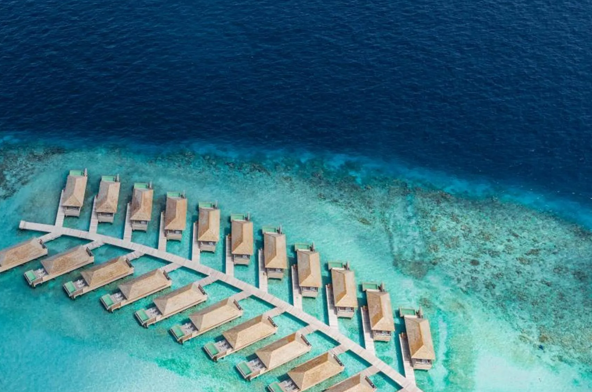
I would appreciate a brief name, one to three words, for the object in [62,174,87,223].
house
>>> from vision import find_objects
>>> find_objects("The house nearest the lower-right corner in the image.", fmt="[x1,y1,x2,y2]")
[398,309,435,372]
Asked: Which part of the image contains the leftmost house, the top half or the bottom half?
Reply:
bottom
